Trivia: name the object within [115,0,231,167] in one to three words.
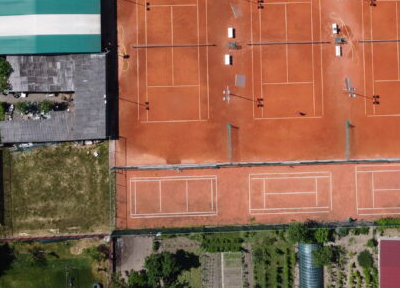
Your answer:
tennis court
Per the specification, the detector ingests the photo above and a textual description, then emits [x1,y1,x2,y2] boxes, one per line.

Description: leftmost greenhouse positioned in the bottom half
[299,244,323,288]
